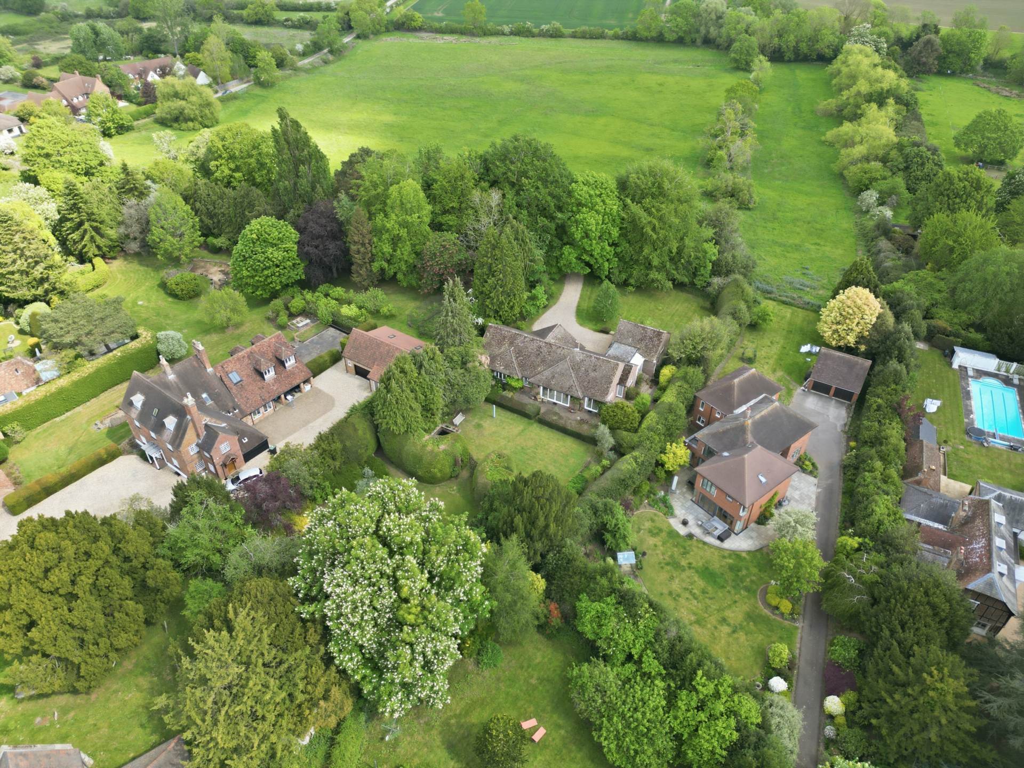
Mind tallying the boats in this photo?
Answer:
0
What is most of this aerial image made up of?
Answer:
trees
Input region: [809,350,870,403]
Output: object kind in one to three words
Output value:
building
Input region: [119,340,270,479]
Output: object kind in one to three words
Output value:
house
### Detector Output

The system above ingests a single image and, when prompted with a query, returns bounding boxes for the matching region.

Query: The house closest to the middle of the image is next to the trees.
[493,318,638,411]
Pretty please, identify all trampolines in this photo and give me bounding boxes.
[966,421,990,438]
